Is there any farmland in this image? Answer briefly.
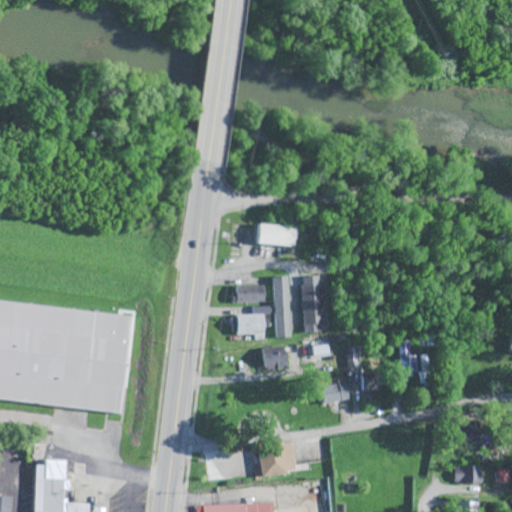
No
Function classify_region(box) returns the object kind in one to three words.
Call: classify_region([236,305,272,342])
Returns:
house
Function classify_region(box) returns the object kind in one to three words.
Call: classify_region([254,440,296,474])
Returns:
house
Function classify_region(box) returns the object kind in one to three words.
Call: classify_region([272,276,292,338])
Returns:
building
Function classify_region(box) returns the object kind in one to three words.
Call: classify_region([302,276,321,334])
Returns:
building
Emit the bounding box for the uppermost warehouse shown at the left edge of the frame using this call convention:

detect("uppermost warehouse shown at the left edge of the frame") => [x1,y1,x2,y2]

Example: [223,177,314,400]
[0,294,135,414]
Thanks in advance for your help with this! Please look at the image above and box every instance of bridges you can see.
[197,0,249,154]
